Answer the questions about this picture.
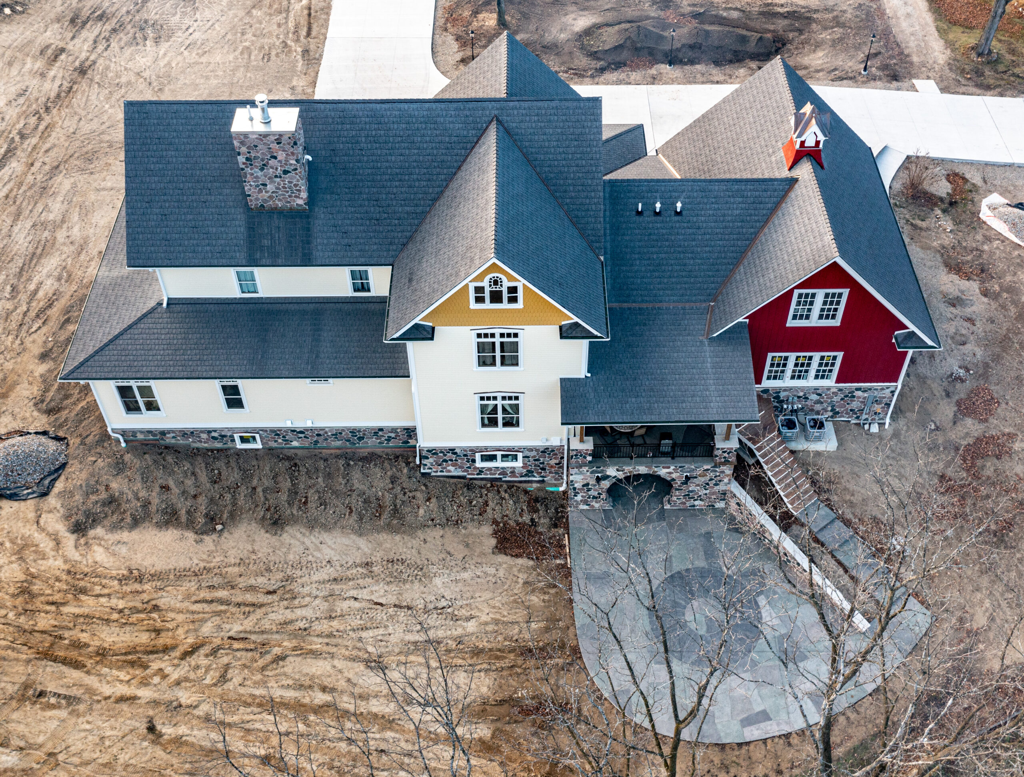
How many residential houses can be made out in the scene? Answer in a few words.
1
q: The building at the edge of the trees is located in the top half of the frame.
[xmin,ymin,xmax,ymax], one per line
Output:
[53,30,947,509]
